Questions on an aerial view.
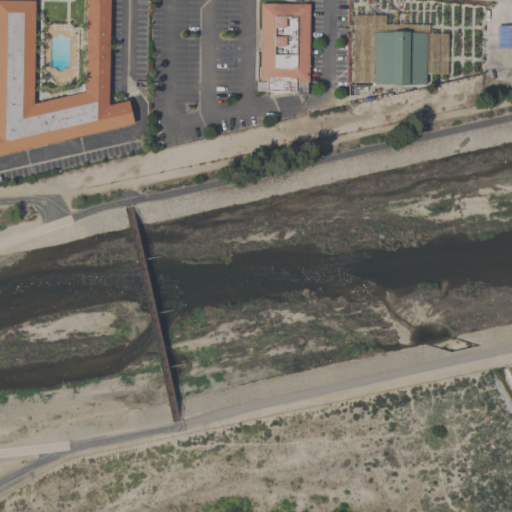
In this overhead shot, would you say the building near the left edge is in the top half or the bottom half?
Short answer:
top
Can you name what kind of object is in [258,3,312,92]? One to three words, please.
building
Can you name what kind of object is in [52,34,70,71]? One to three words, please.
swimming pool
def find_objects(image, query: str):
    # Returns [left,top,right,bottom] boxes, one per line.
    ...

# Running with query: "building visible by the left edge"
[0,0,135,156]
